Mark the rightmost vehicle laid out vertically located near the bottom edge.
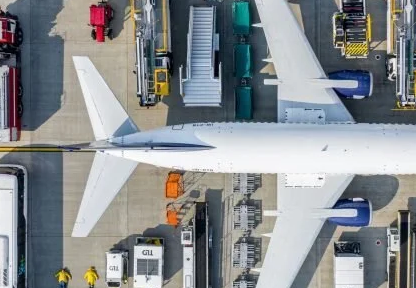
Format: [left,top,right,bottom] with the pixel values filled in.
[387,210,416,288]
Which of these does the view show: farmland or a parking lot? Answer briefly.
parking lot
